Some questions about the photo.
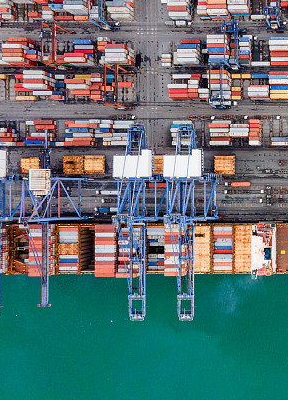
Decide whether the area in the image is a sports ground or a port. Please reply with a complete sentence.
It's a port.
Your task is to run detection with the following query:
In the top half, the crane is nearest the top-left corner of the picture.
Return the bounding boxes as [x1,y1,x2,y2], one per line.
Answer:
[41,21,78,71]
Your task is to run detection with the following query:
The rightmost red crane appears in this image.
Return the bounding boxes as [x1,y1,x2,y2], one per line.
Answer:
[104,63,135,109]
